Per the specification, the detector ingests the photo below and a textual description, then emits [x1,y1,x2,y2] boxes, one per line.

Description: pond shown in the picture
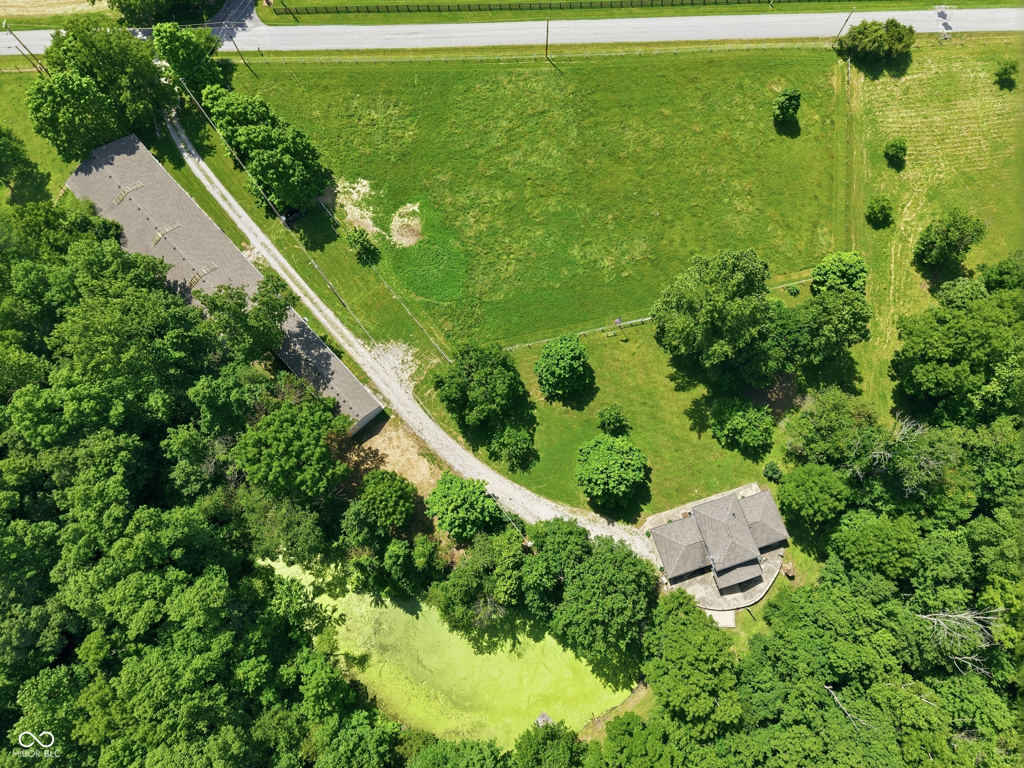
[256,555,639,760]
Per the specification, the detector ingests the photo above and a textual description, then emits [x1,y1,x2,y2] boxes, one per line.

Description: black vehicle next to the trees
[278,207,305,227]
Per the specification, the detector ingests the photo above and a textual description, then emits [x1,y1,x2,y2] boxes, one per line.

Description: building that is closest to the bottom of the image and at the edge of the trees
[649,489,789,590]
